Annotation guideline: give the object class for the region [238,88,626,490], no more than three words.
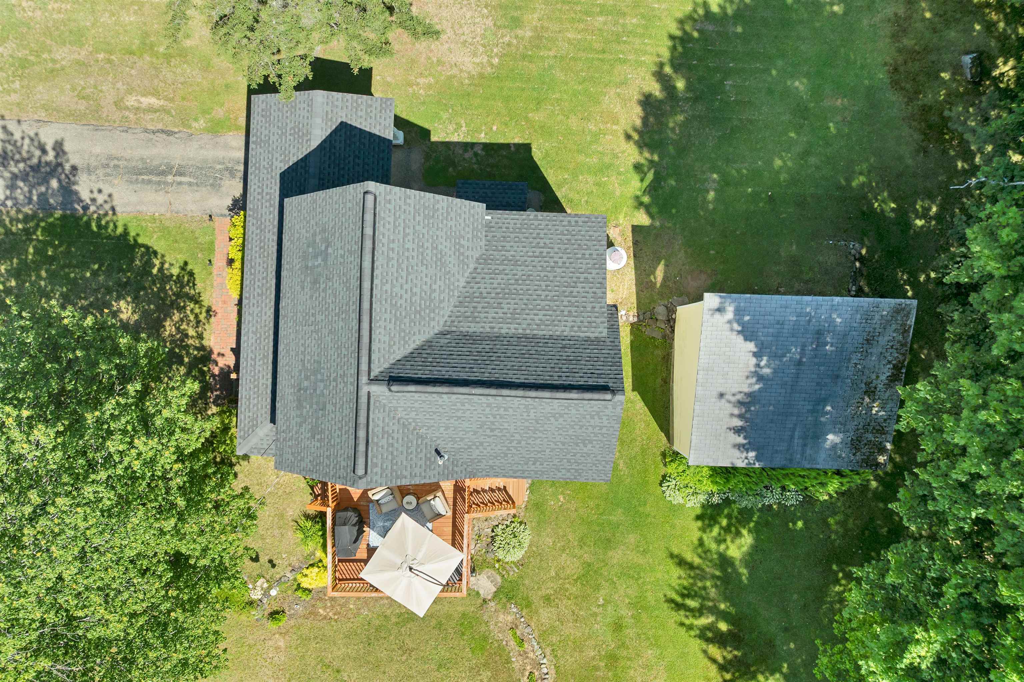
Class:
house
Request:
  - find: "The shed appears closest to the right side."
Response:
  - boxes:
[670,293,916,472]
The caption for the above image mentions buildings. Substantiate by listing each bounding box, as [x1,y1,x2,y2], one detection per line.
[670,293,916,472]
[238,88,626,490]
